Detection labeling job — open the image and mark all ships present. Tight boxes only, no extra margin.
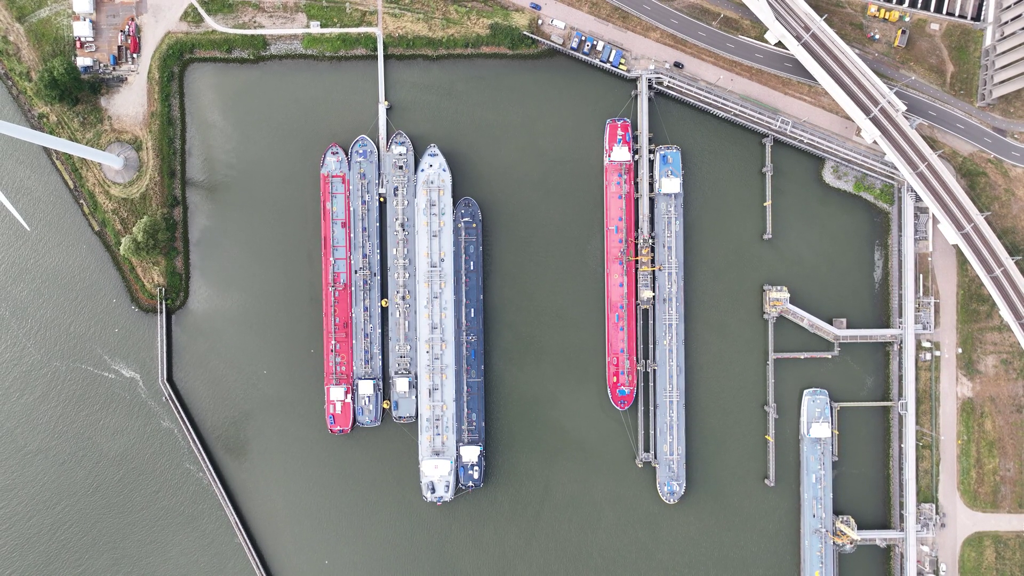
[453,197,485,493]
[603,118,637,411]
[320,142,354,435]
[797,387,833,576]
[386,130,418,423]
[348,134,383,427]
[414,143,457,504]
[653,144,686,505]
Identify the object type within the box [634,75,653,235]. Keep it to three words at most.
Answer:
pier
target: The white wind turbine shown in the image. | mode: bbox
[0,118,139,229]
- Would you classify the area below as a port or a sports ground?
port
